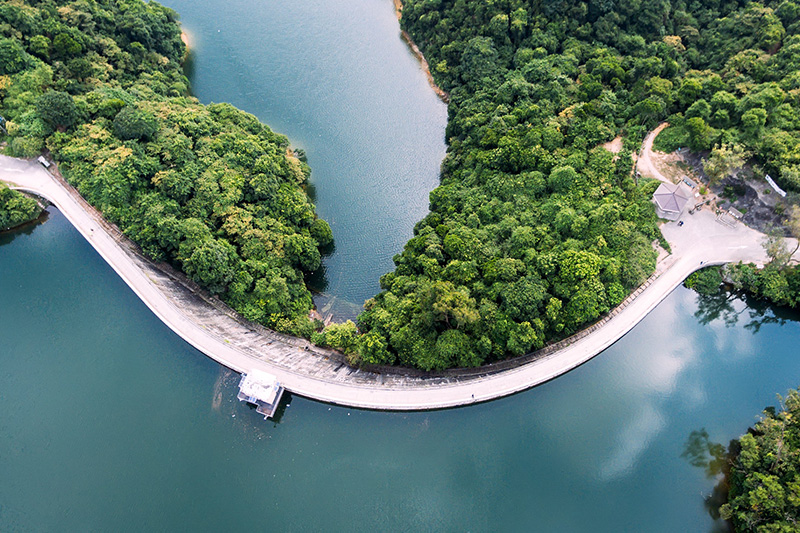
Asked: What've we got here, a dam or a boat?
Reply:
dam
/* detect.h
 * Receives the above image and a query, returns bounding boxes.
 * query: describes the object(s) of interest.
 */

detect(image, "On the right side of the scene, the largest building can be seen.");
[646,184,690,220]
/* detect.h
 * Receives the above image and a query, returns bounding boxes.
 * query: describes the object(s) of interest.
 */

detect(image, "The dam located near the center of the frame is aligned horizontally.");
[48,194,682,410]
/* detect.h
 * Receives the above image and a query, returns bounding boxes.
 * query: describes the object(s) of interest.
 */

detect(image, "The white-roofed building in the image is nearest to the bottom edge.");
[235,368,284,417]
